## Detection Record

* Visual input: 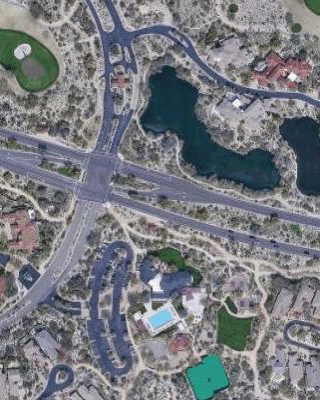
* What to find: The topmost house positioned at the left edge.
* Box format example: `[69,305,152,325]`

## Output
[4,207,38,251]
